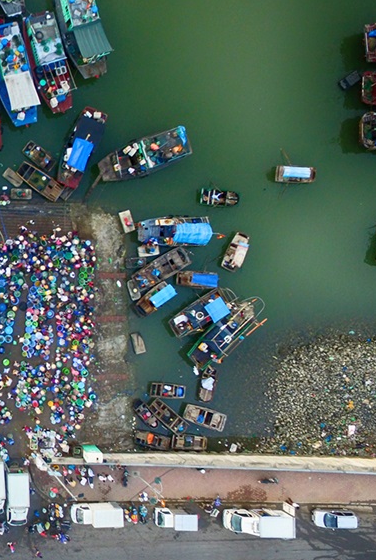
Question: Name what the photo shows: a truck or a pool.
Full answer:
I can see a truck in this picture.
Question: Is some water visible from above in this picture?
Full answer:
Yes, there's water in this view.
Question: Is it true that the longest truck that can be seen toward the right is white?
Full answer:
Yes, the longest truck that can be seen toward the right is white.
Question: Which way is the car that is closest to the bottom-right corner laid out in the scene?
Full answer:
I'd say the car that is closest to the bottom-right corner is aligned from left to right in the picture.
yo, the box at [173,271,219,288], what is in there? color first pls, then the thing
blue boat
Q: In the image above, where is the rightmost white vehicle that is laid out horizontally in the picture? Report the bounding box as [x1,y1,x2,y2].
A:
[313,510,363,534]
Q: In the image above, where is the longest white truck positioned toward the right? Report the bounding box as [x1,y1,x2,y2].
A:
[222,507,305,540]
